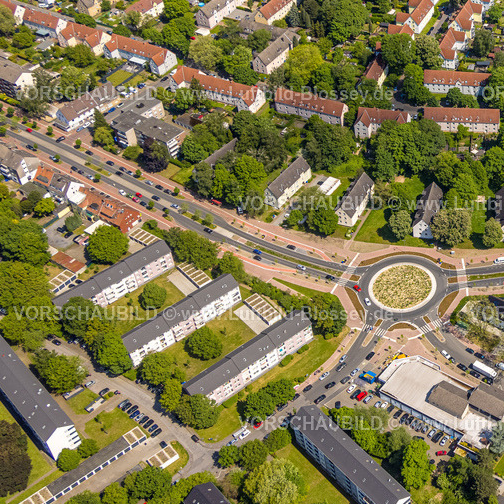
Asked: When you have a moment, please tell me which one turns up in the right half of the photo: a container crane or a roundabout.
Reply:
roundabout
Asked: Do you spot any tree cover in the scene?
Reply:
Yes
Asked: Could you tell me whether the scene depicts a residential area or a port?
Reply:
residential area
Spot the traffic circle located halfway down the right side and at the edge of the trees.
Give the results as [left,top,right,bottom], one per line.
[358,255,448,320]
